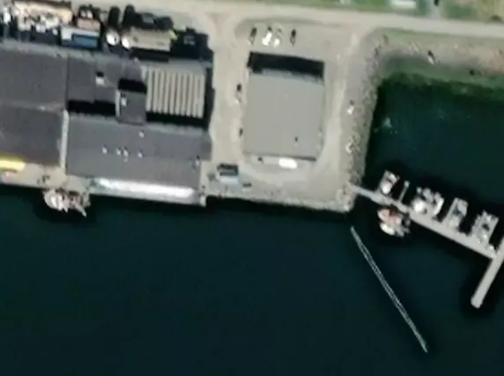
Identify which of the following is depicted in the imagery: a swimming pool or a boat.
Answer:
boat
